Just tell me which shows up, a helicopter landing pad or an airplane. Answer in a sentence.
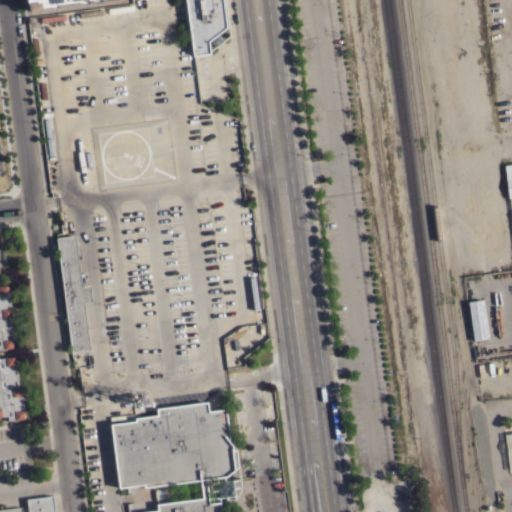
This aerial view contains a helicopter landing pad.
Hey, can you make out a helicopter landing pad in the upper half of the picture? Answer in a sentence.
Yes, the scene does show a helicopter landing pad in the upper half of the picture.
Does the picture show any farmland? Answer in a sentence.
No, there is no farmland in the image.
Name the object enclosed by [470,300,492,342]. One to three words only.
building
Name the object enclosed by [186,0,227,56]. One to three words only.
building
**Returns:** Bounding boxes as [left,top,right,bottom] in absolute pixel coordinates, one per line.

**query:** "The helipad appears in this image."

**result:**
[92,119,176,191]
